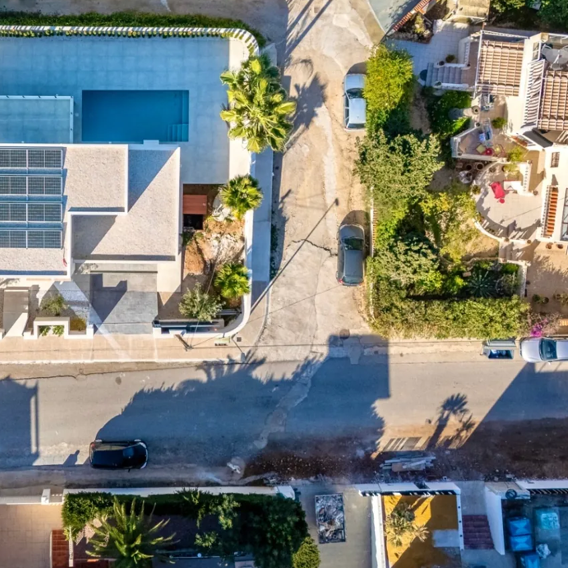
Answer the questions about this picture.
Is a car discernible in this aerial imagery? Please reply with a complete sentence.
Yes, a car can be made out from above.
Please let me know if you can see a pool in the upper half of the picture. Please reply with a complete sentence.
Yes, a pool is visible in the upper half of the picture.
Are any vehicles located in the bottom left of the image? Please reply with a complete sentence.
Yes, a vehicle is visible in the bottom left of the image.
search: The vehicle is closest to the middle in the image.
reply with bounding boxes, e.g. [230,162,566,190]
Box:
[334,223,367,287]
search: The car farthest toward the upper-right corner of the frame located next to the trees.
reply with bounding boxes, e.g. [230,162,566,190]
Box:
[339,72,370,131]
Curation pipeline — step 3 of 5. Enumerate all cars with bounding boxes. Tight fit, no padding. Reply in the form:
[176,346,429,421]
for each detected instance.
[91,439,147,472]
[339,72,370,131]
[516,335,568,366]
[334,223,367,287]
